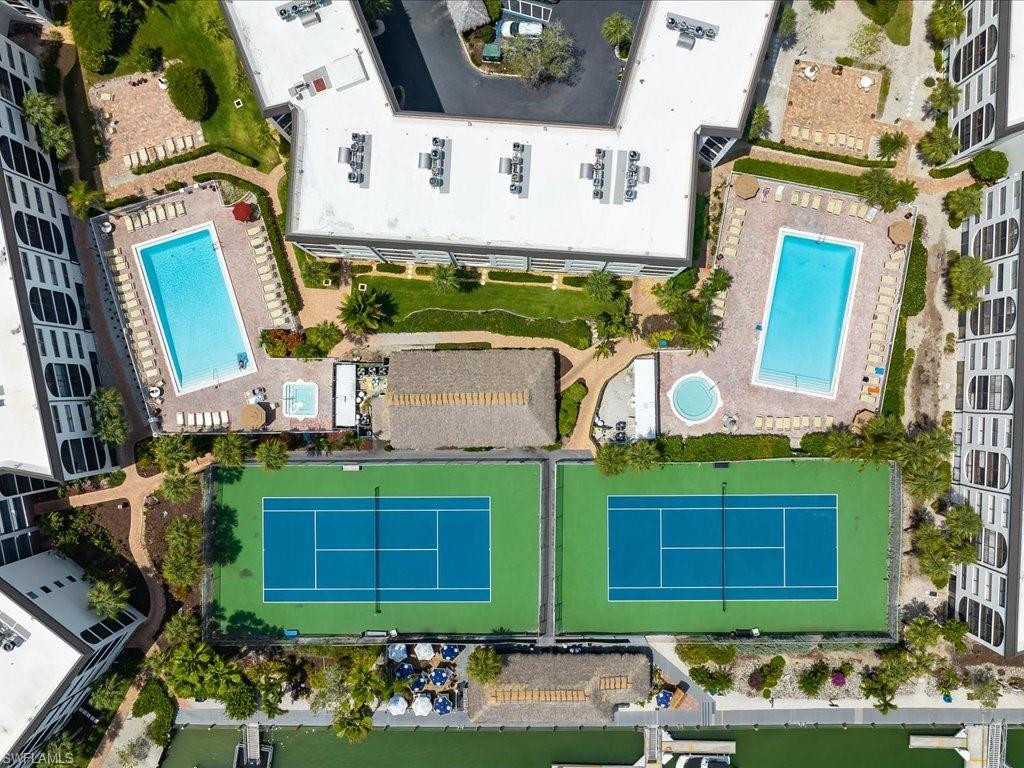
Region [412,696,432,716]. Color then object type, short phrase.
white umbrella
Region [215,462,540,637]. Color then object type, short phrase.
green tennis court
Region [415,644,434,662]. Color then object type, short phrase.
white umbrella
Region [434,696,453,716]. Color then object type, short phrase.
blue umbrella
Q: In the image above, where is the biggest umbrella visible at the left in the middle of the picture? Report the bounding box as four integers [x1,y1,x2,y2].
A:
[241,405,265,429]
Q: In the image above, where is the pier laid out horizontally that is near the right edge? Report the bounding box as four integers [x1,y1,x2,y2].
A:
[908,731,989,768]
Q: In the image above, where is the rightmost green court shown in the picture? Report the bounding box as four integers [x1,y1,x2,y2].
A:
[556,460,890,634]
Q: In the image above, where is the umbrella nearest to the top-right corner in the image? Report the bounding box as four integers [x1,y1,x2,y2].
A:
[890,220,914,244]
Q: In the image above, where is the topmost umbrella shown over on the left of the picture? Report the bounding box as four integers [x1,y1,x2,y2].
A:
[234,201,253,220]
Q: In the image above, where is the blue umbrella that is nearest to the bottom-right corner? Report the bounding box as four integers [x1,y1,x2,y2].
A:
[656,691,672,708]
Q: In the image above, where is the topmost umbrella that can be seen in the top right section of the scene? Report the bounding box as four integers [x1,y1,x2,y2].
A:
[733,174,757,198]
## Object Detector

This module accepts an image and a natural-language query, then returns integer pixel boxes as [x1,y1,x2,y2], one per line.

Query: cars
[546,0,563,6]
[499,18,544,43]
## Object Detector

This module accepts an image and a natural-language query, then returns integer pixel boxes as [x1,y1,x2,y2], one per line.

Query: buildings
[222,0,776,284]
[940,0,1024,171]
[634,359,655,438]
[0,535,146,768]
[948,171,1024,656]
[445,0,492,32]
[385,344,560,452]
[336,365,357,426]
[0,36,117,481]
[465,650,654,726]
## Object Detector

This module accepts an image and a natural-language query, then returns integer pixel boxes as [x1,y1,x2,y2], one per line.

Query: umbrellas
[441,644,460,662]
[415,644,434,662]
[241,405,265,429]
[394,662,413,680]
[733,174,757,198]
[408,676,427,695]
[387,697,407,717]
[890,220,914,244]
[234,201,253,220]
[434,696,453,716]
[656,691,672,708]
[850,408,875,432]
[412,696,432,716]
[388,643,407,662]
[429,668,448,687]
